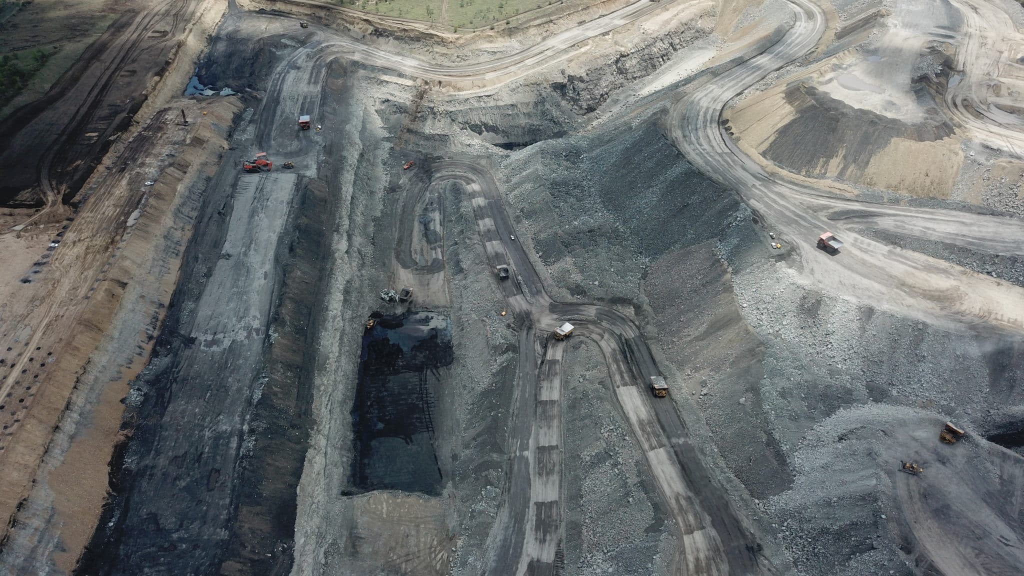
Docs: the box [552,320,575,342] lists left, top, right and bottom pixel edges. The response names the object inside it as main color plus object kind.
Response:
white truck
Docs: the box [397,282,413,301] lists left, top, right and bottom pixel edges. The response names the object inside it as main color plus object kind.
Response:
gray vehicle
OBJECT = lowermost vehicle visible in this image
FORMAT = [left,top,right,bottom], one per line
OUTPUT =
[896,457,925,477]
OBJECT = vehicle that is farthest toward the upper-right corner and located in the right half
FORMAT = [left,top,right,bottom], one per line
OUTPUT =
[818,229,848,251]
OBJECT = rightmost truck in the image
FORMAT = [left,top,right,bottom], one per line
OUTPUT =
[937,418,968,447]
